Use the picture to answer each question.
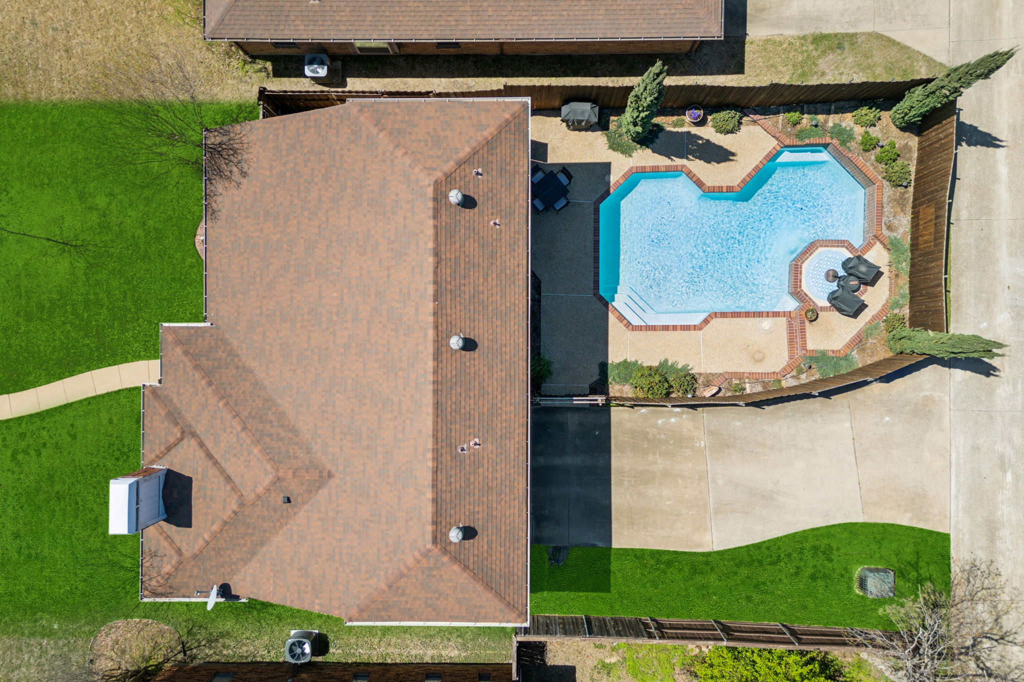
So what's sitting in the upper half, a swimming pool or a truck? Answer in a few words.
swimming pool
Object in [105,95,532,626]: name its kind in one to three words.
house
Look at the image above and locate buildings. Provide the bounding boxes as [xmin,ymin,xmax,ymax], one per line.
[140,661,513,682]
[105,95,532,626]
[202,0,731,55]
